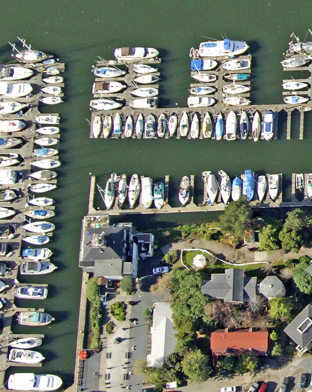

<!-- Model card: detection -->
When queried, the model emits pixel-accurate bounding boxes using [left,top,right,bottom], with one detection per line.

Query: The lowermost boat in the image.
[5,373,62,391]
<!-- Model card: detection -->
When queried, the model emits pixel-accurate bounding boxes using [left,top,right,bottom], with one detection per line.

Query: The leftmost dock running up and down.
[0,61,66,392]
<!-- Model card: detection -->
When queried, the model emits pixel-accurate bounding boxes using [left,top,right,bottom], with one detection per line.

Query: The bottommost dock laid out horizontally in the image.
[88,173,312,216]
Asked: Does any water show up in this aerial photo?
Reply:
Yes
